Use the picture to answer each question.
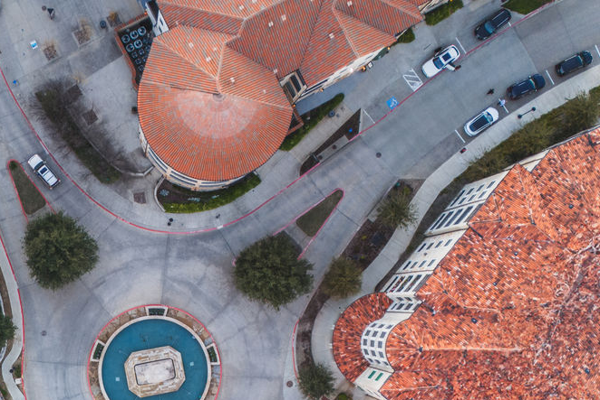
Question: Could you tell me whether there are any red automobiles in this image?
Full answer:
No, no red automobile is visible in the scene.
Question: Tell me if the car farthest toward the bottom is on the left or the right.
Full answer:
You can find the car farthest toward the bottom on the left side of the picture.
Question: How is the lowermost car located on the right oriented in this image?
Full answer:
In this picture, the lowermost car located on the right lies at an angle.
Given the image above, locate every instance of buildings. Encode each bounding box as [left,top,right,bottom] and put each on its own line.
[137,0,450,189]
[335,124,600,400]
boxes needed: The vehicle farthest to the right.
[555,47,596,73]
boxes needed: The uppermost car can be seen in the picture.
[476,4,514,36]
